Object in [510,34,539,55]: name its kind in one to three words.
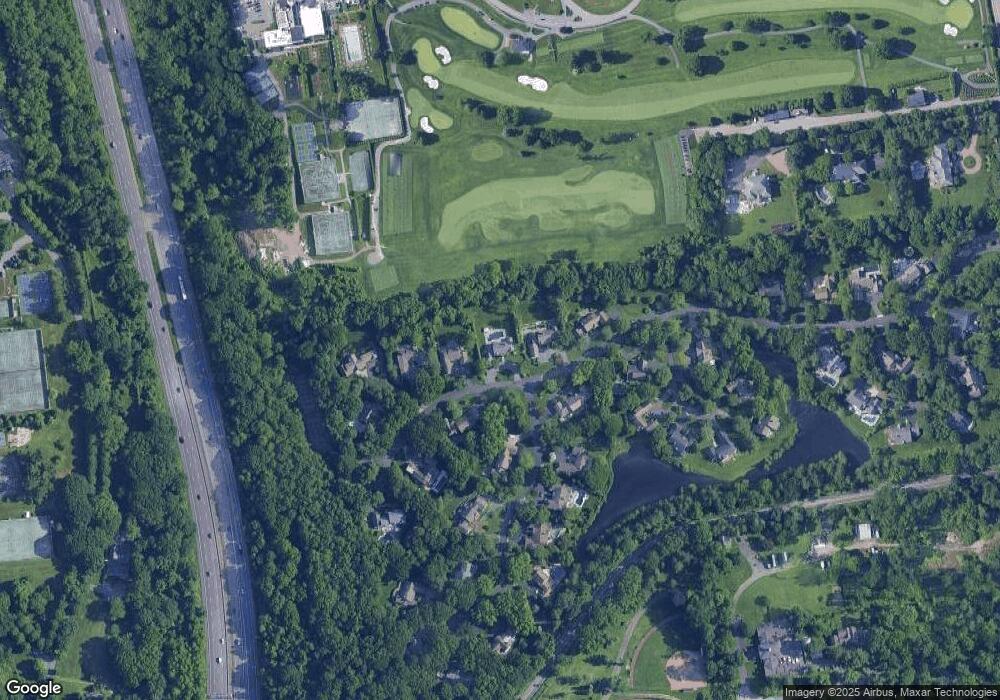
building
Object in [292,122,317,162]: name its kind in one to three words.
sports court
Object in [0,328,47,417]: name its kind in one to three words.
tennis court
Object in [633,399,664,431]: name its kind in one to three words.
house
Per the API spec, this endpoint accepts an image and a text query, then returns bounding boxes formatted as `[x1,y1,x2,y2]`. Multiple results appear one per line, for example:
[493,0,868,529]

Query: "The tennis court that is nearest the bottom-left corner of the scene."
[0,516,51,561]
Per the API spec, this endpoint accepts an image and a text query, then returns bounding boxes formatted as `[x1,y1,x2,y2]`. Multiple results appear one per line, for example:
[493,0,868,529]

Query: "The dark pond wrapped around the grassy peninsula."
[579,338,867,573]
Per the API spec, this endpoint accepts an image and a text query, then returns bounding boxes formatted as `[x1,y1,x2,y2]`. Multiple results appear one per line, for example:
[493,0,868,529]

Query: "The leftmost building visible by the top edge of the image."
[263,0,324,47]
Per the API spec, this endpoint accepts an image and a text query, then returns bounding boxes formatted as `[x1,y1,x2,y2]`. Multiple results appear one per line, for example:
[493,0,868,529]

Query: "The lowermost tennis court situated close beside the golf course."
[312,212,353,254]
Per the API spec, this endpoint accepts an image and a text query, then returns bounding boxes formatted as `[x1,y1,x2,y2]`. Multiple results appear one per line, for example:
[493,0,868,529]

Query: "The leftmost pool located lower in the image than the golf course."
[484,329,507,344]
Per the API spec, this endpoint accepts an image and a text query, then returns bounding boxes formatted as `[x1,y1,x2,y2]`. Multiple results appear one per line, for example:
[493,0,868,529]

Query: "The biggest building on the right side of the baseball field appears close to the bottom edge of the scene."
[757,625,803,678]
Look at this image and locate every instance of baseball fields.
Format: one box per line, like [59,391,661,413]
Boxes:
[630,593,710,693]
